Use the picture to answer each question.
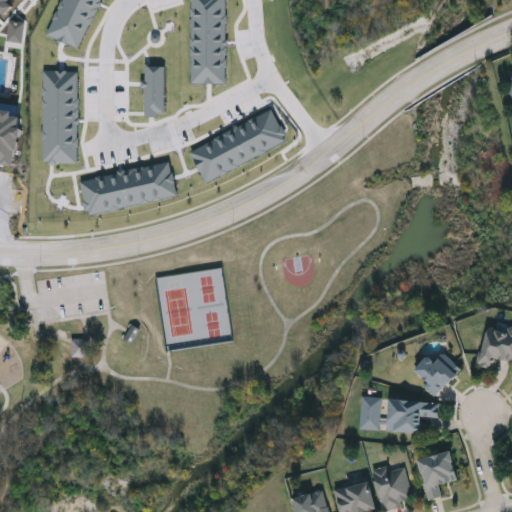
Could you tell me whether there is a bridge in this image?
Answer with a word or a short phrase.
Yes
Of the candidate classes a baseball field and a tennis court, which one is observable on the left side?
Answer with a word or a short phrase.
tennis court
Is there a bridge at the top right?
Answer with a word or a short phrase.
Yes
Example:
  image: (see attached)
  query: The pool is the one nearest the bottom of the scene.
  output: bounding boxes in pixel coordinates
[420,342,443,356]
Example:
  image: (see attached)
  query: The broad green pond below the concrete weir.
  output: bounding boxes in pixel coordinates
[370,188,448,286]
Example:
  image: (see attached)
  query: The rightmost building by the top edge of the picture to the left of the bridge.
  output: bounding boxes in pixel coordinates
[190,0,227,86]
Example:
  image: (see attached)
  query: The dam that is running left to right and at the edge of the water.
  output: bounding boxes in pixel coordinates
[412,172,460,188]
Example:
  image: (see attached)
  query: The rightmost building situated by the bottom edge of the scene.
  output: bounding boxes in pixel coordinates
[418,451,458,502]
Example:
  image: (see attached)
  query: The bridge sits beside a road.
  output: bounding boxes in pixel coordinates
[404,14,496,112]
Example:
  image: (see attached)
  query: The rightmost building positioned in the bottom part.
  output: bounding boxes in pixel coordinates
[476,325,512,368]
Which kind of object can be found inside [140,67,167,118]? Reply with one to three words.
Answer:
building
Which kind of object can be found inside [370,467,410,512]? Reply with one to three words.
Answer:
house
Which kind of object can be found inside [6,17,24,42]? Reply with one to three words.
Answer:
building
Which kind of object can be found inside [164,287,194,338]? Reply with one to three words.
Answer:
tennis court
